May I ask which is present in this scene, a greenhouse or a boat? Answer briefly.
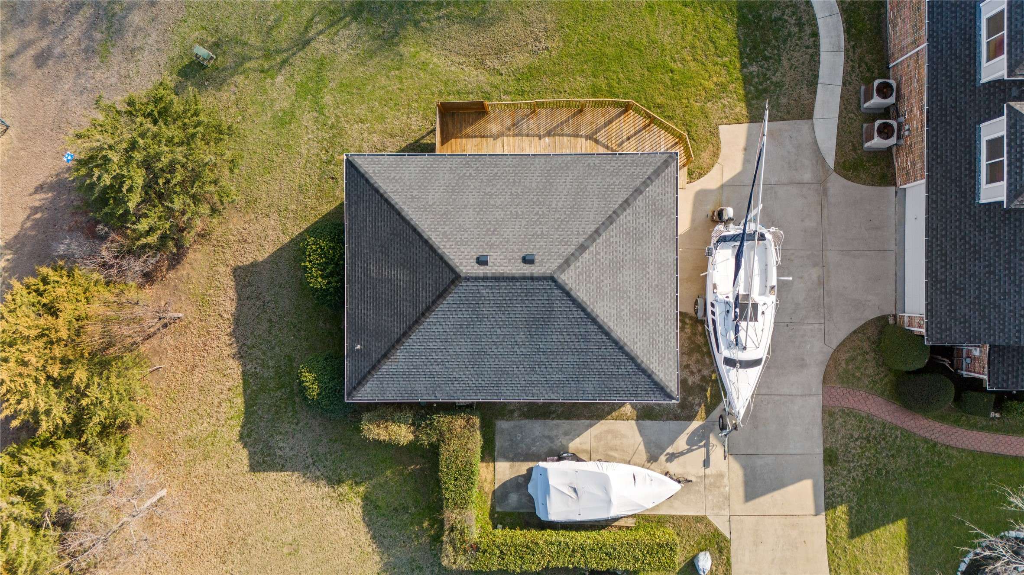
boat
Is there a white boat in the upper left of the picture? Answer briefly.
No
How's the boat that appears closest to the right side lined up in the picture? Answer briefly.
vertically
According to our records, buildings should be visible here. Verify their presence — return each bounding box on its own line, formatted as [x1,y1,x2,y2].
[886,0,1024,393]
[343,152,681,408]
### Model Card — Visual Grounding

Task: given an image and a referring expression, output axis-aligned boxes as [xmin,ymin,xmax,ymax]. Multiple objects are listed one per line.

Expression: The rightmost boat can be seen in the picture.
[704,101,783,427]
